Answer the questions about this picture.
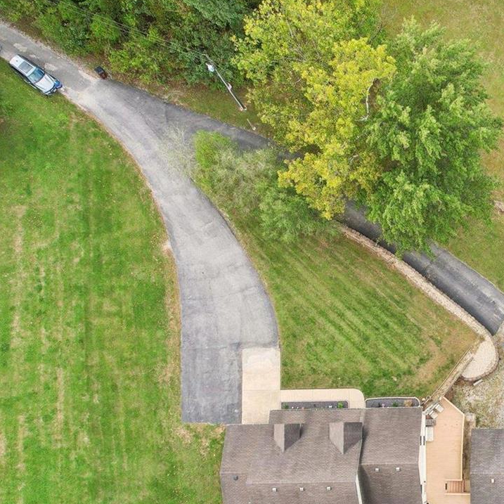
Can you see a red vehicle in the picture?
No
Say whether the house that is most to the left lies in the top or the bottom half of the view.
bottom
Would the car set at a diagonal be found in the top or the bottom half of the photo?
top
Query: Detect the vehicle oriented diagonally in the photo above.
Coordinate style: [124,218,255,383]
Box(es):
[2,49,67,98]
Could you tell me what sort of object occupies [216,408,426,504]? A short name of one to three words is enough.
house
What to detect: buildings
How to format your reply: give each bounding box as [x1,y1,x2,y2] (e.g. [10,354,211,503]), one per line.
[469,428,504,504]
[216,408,426,504]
